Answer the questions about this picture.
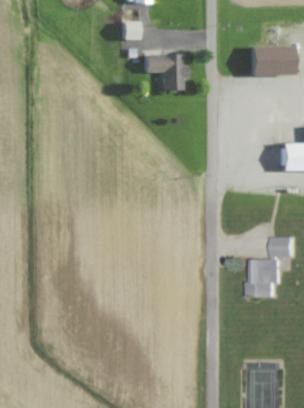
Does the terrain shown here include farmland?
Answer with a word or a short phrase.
Yes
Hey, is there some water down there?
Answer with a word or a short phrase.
No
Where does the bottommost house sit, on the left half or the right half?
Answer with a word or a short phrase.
right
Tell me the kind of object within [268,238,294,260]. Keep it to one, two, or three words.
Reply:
building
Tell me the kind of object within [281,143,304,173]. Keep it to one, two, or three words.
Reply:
shed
